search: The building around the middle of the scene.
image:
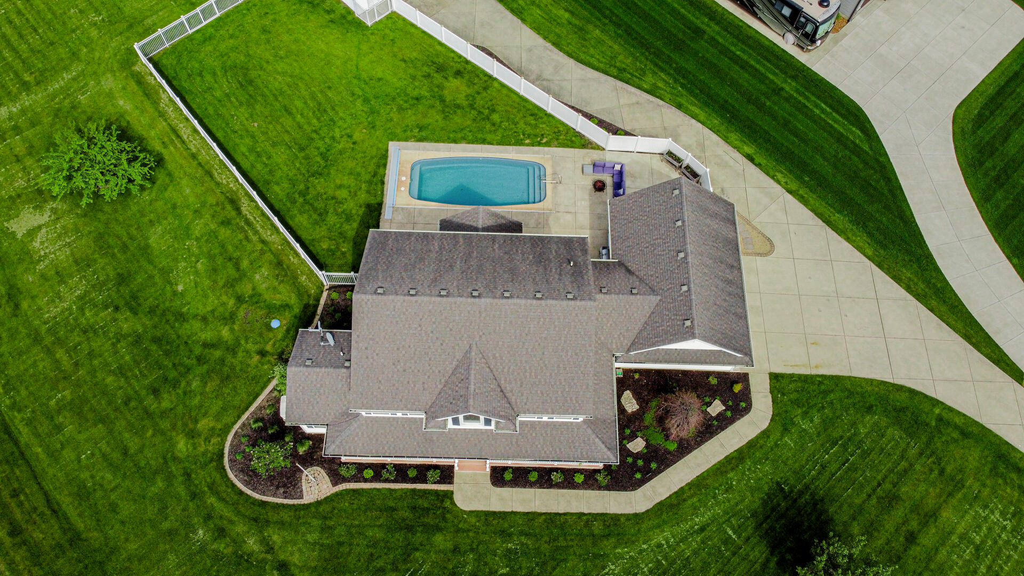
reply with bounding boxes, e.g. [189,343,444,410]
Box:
[280,179,755,474]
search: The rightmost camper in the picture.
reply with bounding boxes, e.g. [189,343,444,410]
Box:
[723,0,838,49]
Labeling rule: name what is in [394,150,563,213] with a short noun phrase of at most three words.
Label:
swimming pool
